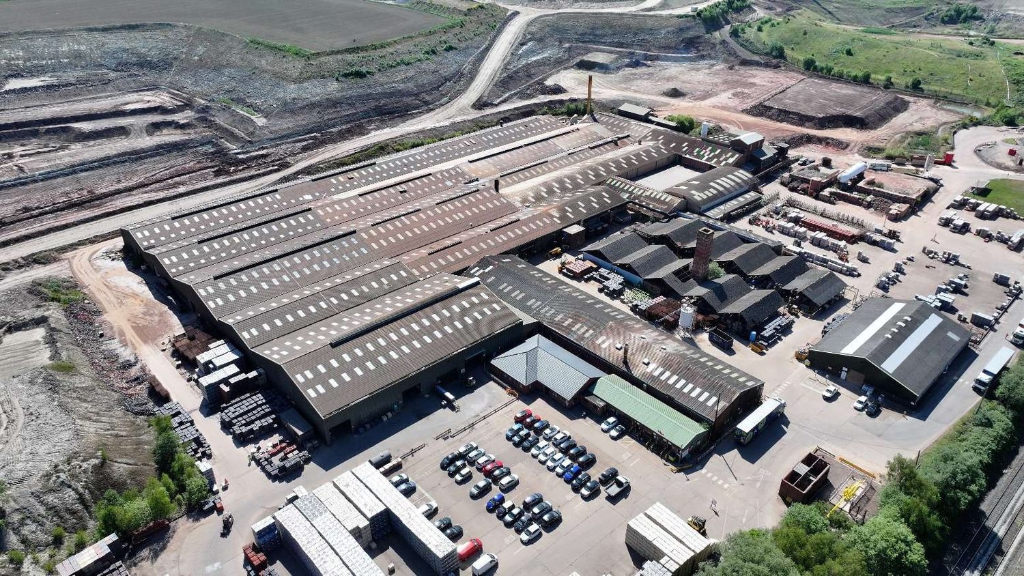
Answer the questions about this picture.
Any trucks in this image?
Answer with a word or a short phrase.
Yes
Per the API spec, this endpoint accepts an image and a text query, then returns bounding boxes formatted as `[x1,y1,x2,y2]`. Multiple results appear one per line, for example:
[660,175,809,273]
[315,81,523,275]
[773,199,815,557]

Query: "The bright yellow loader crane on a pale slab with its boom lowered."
[827,471,873,515]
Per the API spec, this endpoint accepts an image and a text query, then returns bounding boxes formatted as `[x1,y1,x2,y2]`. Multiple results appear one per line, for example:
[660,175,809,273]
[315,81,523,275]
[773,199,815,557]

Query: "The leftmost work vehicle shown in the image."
[218,507,240,533]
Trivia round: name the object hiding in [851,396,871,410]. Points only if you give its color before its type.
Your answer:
white car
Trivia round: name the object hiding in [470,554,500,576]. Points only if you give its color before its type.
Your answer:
white vehicle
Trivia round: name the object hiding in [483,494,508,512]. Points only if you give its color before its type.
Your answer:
blue car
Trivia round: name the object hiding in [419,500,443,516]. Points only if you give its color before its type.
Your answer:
white vehicle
